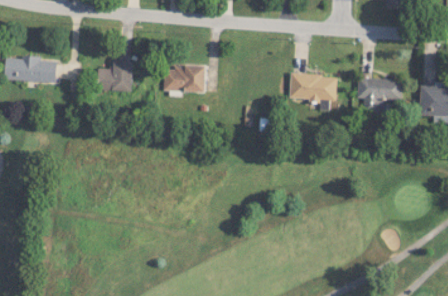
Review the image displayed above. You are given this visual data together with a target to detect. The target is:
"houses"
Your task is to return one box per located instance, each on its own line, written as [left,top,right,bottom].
[5,56,60,88]
[421,82,448,123]
[358,70,404,106]
[164,63,208,97]
[98,60,138,92]
[290,66,338,112]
